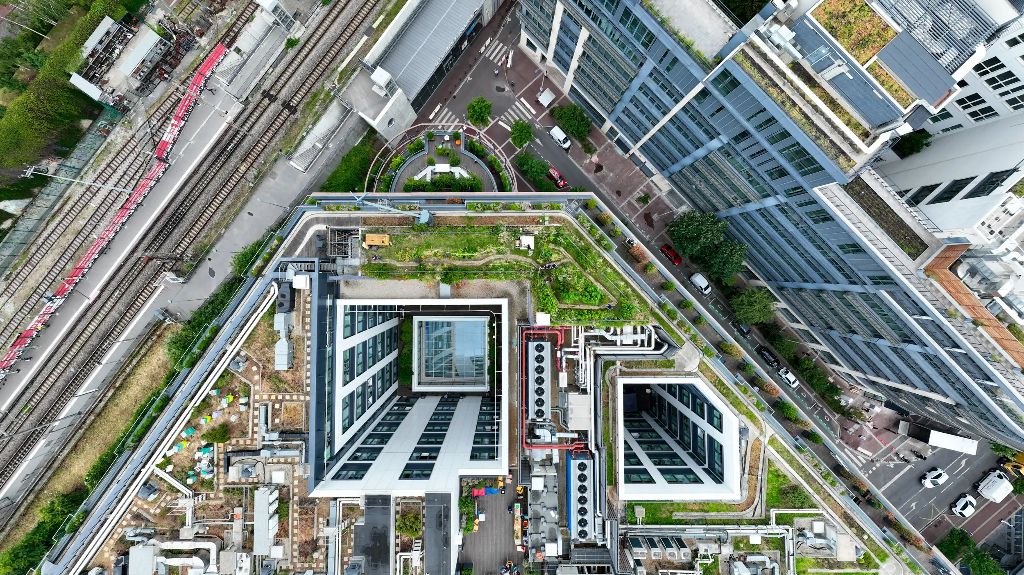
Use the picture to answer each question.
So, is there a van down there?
Yes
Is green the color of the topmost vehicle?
No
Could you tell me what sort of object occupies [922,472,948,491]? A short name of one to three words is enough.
car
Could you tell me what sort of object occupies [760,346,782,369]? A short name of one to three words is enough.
car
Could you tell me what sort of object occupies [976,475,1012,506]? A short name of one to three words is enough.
van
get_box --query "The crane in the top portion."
[350,191,436,226]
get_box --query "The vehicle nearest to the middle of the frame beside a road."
[547,162,568,187]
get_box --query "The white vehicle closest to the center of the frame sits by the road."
[549,124,572,148]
